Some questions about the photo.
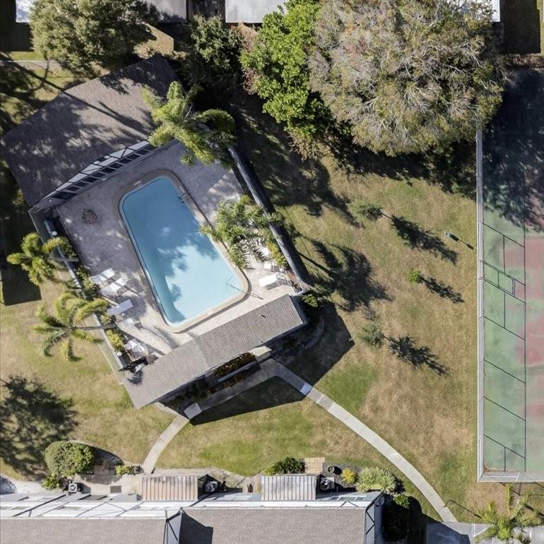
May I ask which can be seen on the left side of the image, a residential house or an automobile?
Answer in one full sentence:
Looking on the left side of the image, you will find a residential house.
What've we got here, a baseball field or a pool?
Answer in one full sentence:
The image shows a pool.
